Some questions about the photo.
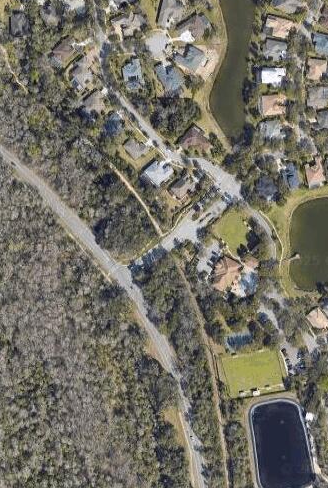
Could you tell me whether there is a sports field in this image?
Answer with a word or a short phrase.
Yes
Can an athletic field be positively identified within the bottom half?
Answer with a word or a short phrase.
Yes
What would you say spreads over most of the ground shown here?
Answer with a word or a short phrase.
trees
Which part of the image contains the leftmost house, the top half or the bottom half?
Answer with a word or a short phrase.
top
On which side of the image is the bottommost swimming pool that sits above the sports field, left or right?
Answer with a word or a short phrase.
right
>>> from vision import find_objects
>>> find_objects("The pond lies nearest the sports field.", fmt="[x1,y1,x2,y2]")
[253,399,314,488]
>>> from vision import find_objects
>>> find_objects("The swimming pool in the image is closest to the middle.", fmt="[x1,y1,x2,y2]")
[234,269,258,298]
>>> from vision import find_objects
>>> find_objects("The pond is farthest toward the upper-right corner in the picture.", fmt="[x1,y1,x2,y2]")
[208,0,254,147]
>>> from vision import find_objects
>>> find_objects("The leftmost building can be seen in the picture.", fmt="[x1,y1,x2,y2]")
[10,13,29,36]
